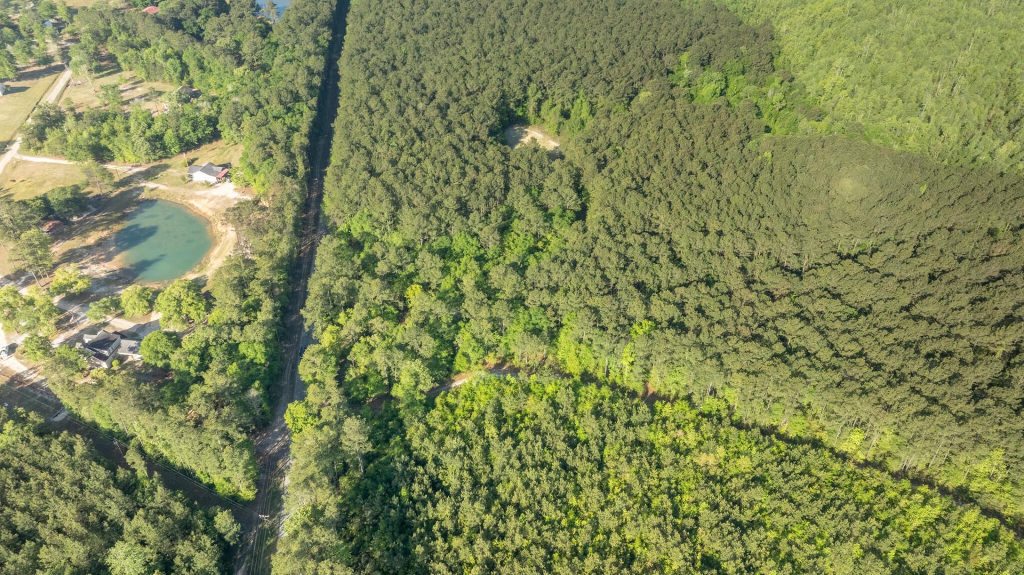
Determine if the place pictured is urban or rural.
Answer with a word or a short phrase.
rural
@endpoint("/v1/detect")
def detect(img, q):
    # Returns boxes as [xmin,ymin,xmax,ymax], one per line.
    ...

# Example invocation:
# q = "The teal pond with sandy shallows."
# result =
[115,199,215,284]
